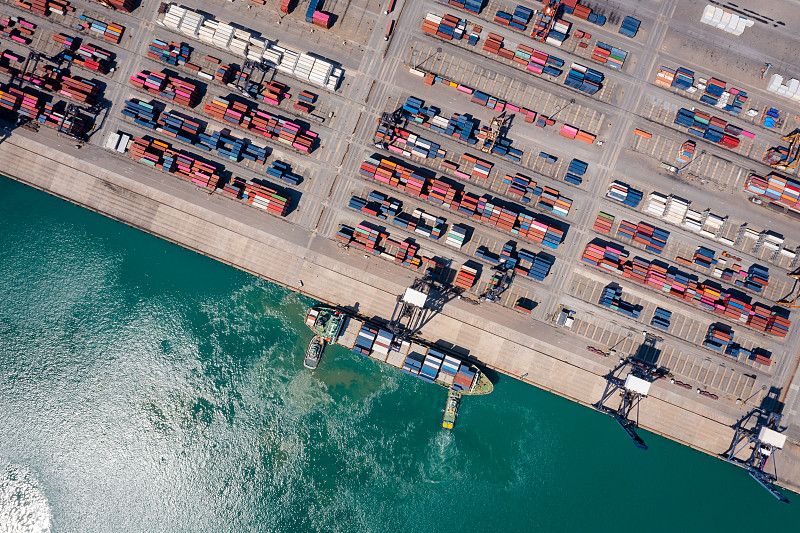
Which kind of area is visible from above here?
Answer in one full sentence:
It's a port.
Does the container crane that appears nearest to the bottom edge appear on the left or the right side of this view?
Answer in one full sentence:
The container crane that appears nearest to the bottom edge appears in the right half of the scene.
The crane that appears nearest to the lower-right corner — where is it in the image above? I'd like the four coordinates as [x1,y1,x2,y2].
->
[712,408,792,505]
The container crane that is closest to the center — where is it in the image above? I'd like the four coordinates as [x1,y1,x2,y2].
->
[384,269,432,351]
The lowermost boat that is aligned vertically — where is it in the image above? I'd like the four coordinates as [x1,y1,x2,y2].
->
[441,392,459,431]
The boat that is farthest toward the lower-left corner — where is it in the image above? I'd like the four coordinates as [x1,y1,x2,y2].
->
[302,338,322,374]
